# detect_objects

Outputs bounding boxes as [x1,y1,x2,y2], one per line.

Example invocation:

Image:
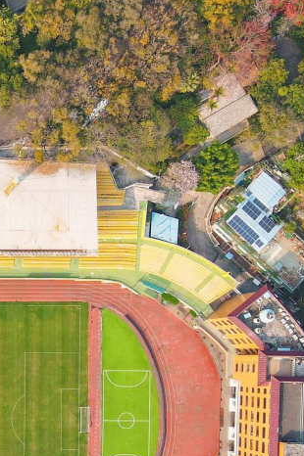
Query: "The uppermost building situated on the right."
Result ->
[193,73,256,139]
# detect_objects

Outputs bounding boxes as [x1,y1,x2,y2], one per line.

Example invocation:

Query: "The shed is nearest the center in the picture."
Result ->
[148,211,179,243]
